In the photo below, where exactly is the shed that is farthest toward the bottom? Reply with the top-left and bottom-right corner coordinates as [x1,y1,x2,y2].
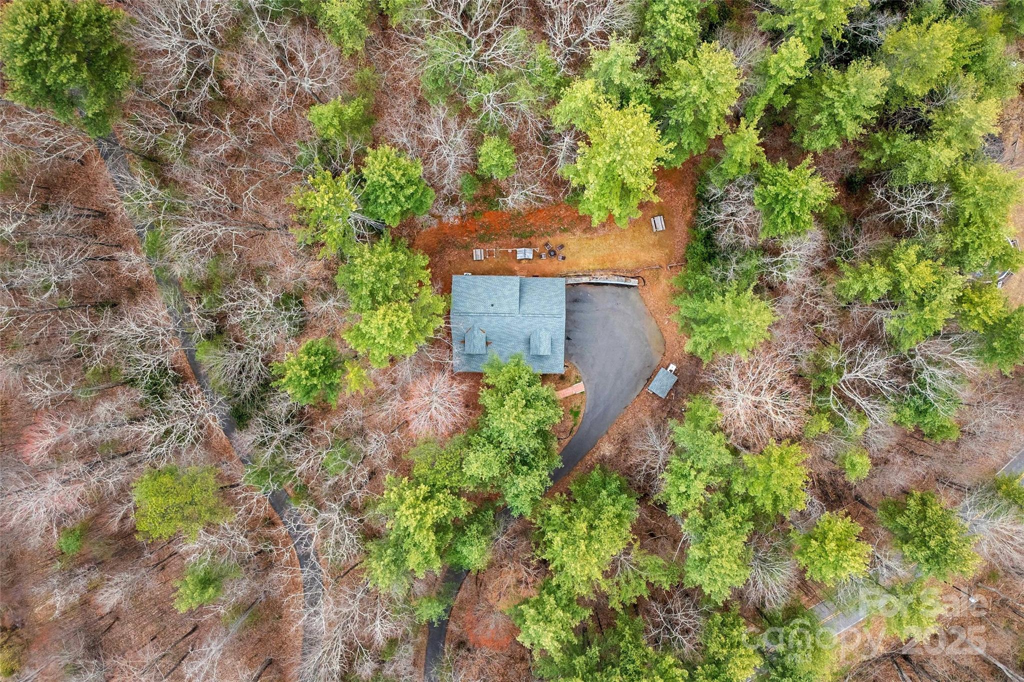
[647,367,677,399]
